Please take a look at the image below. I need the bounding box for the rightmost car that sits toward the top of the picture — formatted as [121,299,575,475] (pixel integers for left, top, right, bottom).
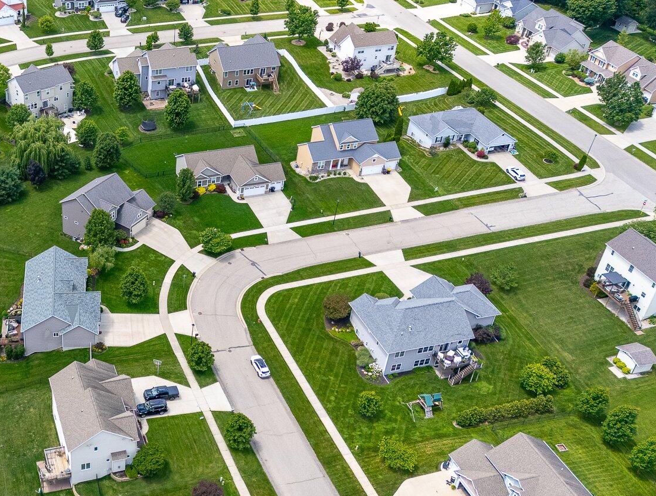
[505,166,529,181]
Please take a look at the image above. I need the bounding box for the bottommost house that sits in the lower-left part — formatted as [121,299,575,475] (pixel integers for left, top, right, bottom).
[42,359,144,488]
